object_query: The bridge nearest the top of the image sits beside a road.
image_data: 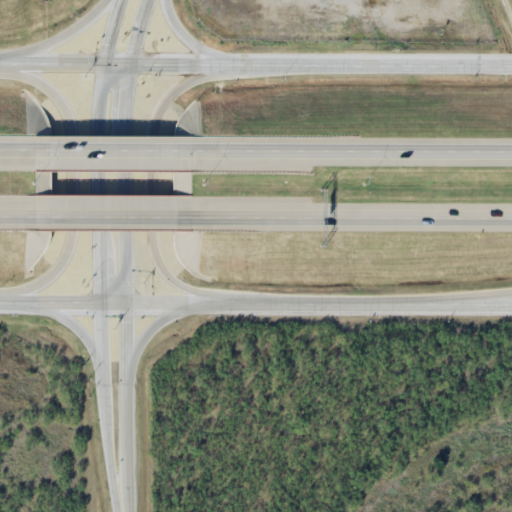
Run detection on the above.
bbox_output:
[36,136,192,171]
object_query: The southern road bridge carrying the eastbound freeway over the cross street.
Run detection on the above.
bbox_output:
[36,195,192,230]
